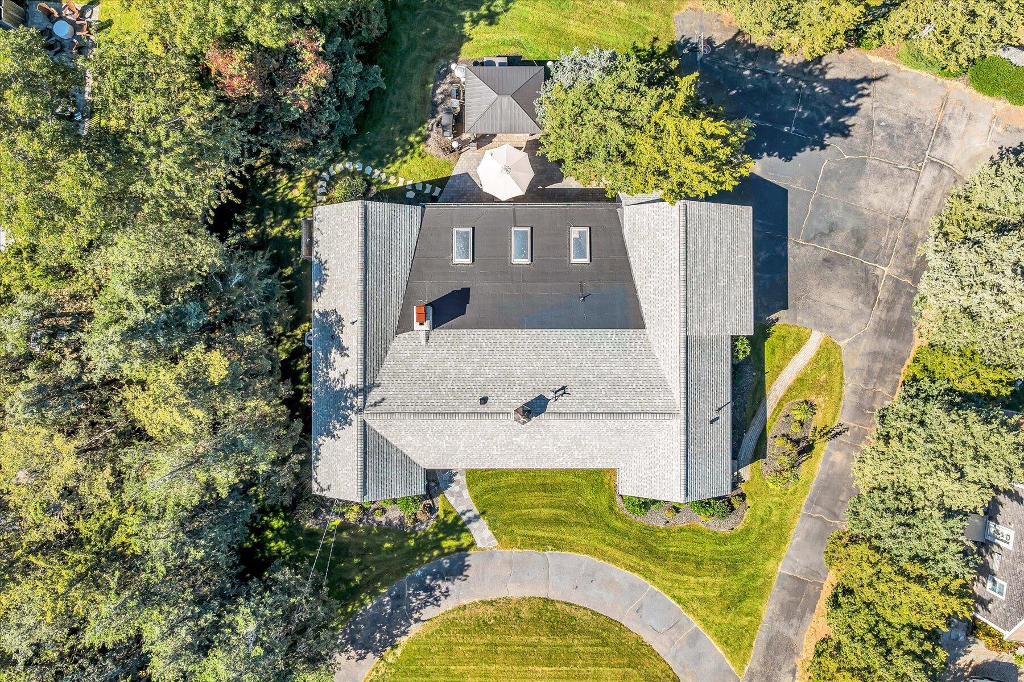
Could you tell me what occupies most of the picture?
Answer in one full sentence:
What you mostly see from above here is trees.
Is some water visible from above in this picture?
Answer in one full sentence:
No, water can't be seen anywhere here.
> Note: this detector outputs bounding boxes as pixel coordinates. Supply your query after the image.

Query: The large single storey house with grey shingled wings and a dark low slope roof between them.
[310,191,754,503]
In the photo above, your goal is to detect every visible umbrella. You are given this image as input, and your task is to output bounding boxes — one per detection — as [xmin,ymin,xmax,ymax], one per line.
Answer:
[476,144,534,201]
